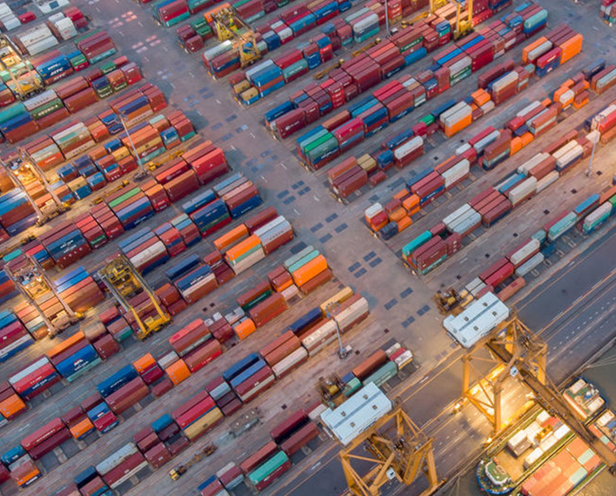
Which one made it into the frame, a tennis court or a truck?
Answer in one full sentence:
This aerial view contains a truck.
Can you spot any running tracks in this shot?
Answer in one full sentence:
No, I can't see a single running track in this photo.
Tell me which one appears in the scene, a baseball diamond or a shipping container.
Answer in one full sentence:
This aerial view contains a shipping container.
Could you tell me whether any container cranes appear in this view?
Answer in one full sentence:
Yes, a container crane is visible in the scene.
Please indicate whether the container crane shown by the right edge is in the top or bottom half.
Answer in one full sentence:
The container crane shown by the right edge is in the bottom half of the image.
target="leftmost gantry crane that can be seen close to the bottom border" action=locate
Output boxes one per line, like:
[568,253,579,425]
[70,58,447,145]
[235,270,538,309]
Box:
[316,376,444,496]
